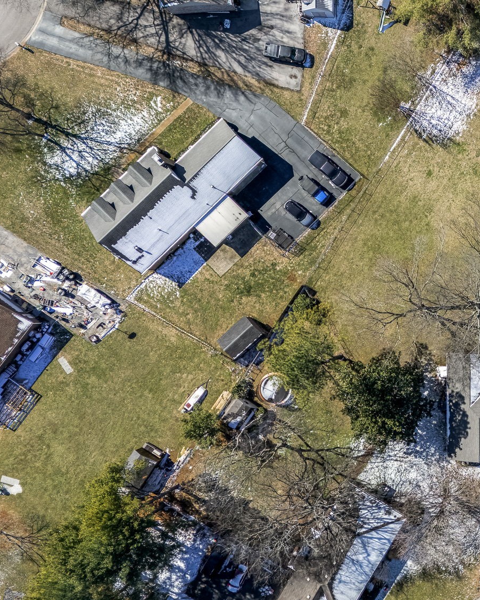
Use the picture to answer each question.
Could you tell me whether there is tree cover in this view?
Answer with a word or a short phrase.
Yes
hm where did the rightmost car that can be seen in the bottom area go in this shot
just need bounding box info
[224,559,250,598]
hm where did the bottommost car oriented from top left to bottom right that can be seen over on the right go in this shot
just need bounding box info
[284,197,319,232]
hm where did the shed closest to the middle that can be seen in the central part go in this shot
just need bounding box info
[217,317,266,360]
